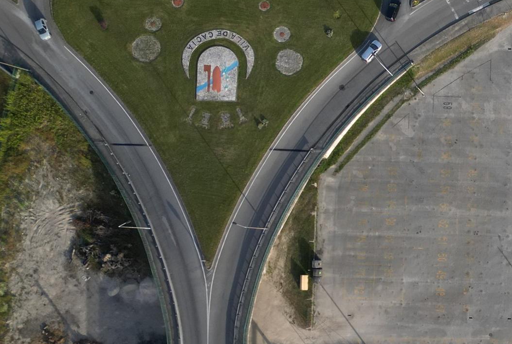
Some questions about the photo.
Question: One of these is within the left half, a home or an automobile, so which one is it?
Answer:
automobile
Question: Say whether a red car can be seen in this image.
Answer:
No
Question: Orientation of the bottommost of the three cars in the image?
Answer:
at an angle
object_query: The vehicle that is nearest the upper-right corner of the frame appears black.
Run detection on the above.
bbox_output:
[384,0,398,23]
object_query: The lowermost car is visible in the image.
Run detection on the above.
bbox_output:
[359,38,383,63]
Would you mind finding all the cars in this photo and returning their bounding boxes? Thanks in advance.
[31,15,49,39]
[359,38,383,63]
[384,0,398,23]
